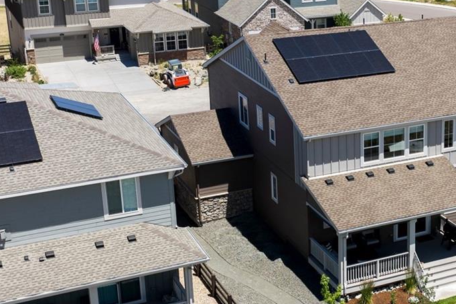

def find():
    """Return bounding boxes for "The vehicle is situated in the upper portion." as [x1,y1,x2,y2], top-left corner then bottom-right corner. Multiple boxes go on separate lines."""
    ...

[153,57,192,86]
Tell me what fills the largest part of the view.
buildings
